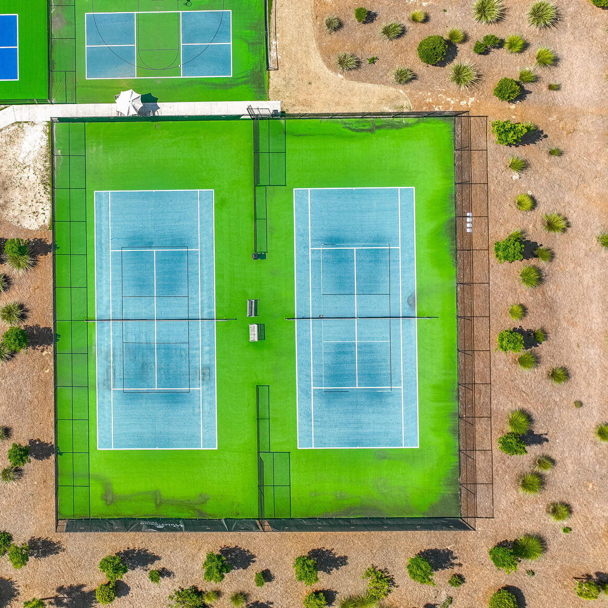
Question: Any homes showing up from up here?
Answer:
No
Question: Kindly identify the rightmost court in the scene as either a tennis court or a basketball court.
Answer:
tennis court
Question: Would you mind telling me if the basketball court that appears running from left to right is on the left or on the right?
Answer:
left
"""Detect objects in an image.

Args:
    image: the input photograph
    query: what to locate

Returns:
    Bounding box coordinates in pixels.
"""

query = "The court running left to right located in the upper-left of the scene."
[50,0,268,104]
